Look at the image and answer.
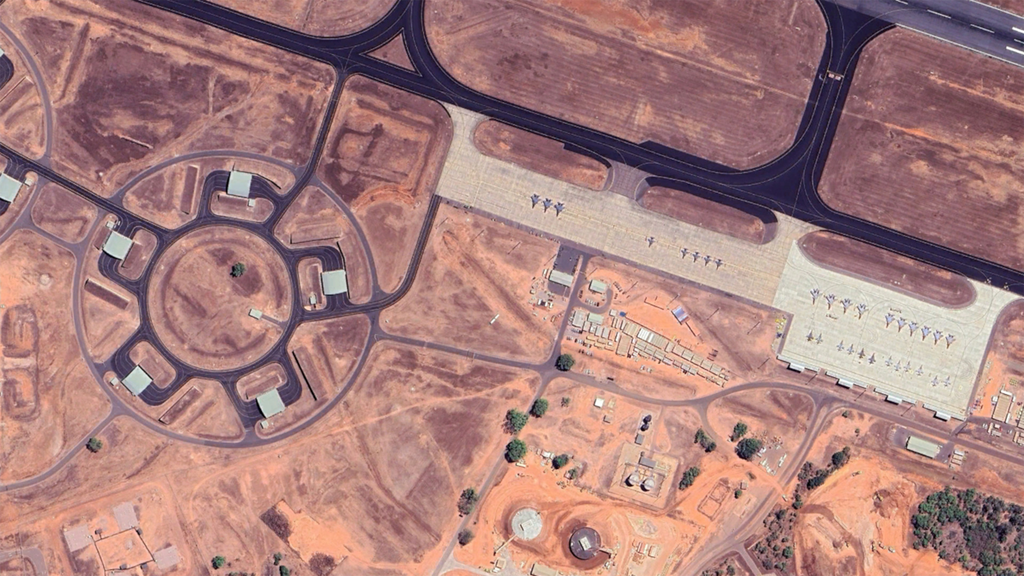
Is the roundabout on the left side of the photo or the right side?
left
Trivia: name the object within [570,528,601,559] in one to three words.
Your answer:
storage tank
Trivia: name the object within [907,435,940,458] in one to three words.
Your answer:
shed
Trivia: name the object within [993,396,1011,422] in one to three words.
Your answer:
building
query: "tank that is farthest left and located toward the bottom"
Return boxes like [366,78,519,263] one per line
[512,508,543,539]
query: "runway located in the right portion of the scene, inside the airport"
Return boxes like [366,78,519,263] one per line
[843,0,1024,68]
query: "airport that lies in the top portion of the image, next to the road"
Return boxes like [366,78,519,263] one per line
[0,0,1024,418]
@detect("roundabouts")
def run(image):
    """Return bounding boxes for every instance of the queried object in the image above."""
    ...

[98,170,384,436]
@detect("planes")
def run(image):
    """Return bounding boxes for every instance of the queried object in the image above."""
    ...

[885,357,893,368]
[857,350,865,360]
[809,289,821,306]
[915,368,923,377]
[693,252,700,263]
[815,335,823,345]
[921,326,931,340]
[856,304,867,320]
[884,313,894,328]
[943,378,951,388]
[841,299,852,315]
[647,237,655,248]
[531,193,541,207]
[543,197,553,212]
[894,361,901,372]
[903,364,911,373]
[806,331,813,341]
[931,377,939,388]
[868,355,876,365]
[933,330,943,344]
[825,294,836,310]
[715,259,723,270]
[945,334,955,349]
[909,321,918,337]
[897,317,907,331]
[681,248,689,258]
[555,201,565,216]
[837,340,844,352]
